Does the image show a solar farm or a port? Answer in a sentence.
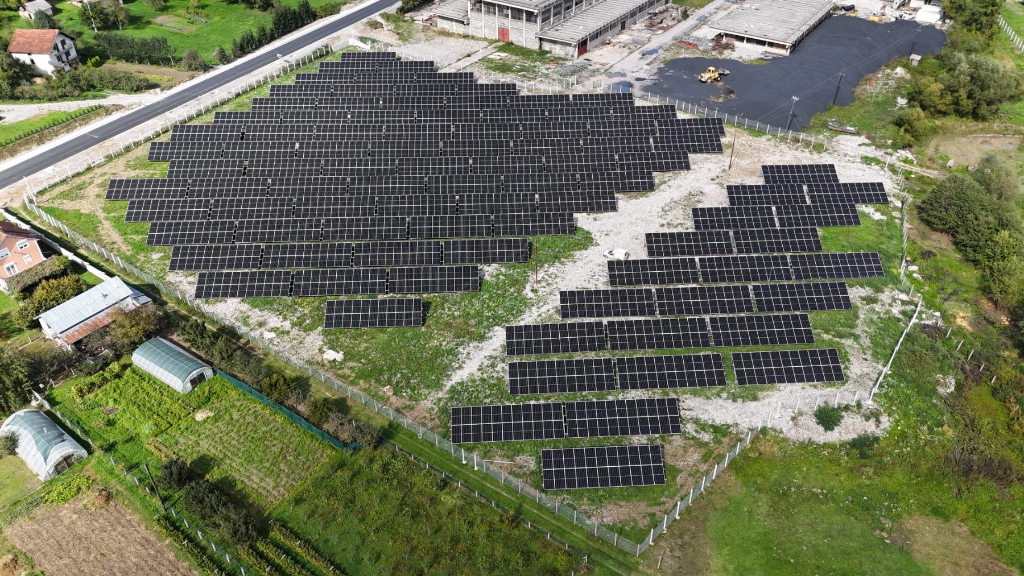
The area seen from above is a solar farm.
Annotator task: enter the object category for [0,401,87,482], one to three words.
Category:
greenhouse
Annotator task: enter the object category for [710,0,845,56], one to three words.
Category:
shed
